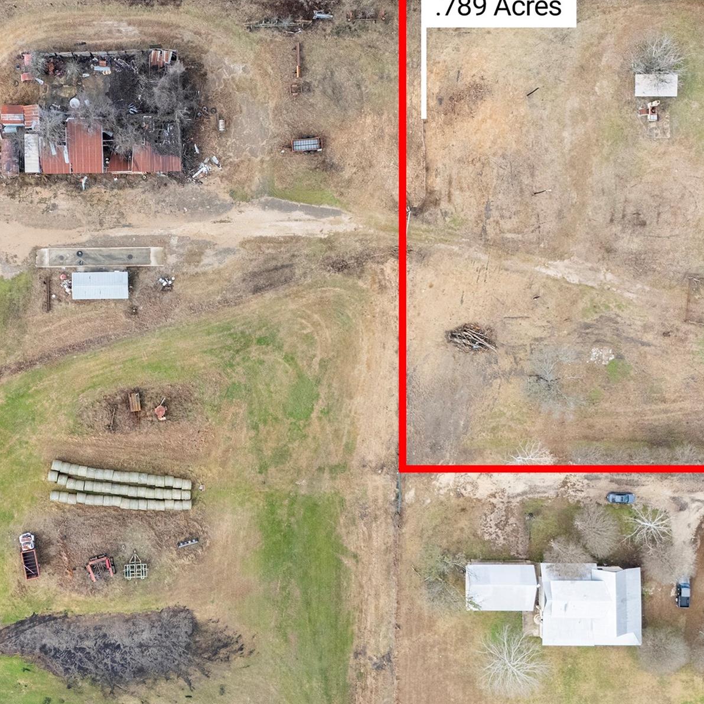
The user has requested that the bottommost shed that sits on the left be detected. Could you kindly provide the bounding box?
[72,269,129,300]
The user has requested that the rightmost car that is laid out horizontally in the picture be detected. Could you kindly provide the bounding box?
[608,493,637,506]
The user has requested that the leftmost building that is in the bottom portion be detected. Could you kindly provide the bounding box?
[463,561,541,611]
